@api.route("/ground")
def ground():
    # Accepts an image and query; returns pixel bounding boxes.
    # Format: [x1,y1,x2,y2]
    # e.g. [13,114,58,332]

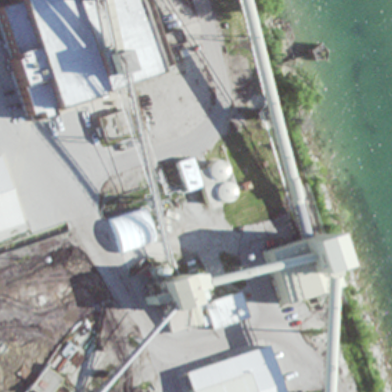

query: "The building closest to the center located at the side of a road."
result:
[172,158,203,192]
